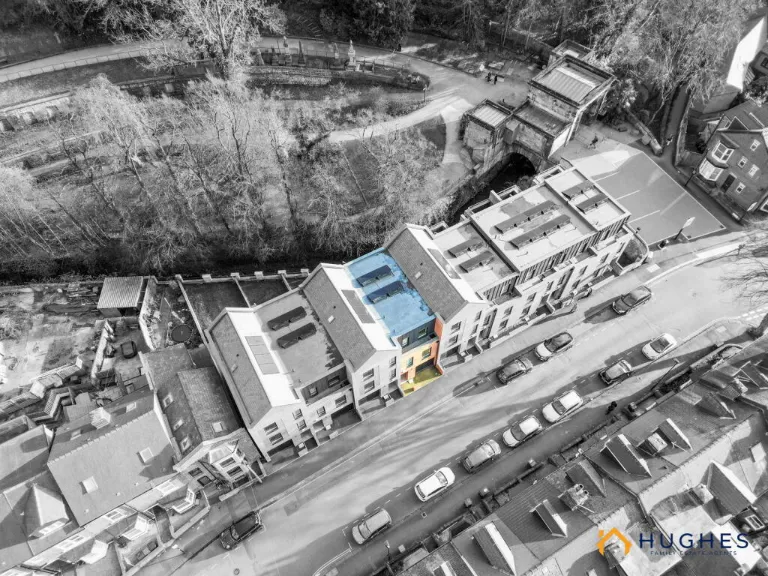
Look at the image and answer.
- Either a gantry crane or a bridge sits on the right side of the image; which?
bridge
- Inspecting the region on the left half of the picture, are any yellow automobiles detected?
No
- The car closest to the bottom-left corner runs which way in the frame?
on a diagonal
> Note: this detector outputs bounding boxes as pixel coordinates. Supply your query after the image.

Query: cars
[597,358,634,386]
[502,414,542,447]
[535,332,574,362]
[640,332,677,359]
[350,504,393,543]
[460,437,503,472]
[496,356,535,385]
[412,465,458,502]
[542,389,584,422]
[613,287,652,315]
[219,512,267,554]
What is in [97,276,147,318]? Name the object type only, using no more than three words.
shed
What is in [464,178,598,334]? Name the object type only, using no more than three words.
building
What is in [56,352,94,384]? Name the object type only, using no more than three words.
shed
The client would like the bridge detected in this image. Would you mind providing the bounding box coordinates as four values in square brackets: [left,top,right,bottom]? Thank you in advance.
[491,135,560,169]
